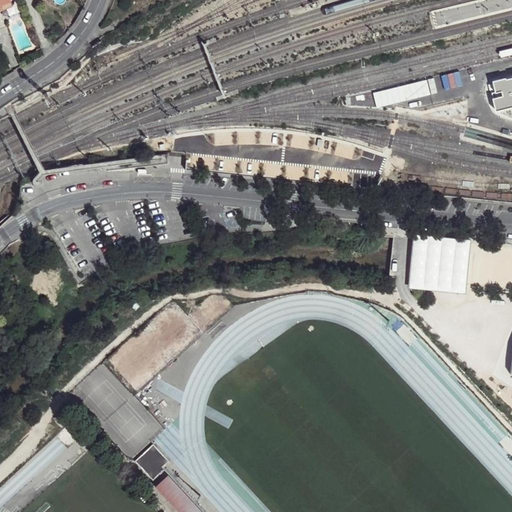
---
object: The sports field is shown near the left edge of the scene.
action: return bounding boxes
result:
[17,451,150,512]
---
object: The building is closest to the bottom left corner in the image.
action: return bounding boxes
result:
[136,446,168,481]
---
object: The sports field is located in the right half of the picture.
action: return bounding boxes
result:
[206,320,512,512]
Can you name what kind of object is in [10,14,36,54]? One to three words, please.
swimming pool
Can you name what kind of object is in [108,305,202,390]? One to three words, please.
sports field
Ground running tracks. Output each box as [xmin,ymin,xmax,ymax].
[154,293,512,512]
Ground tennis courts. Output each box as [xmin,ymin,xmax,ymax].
[74,364,164,460]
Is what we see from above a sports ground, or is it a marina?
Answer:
sports ground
